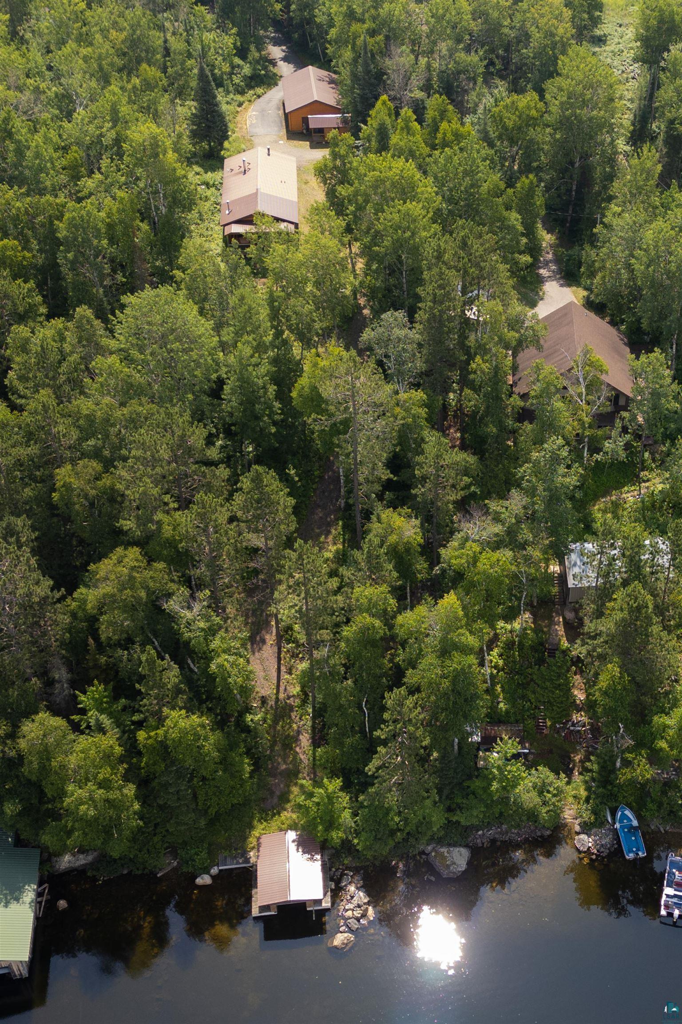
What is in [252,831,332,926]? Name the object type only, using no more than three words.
building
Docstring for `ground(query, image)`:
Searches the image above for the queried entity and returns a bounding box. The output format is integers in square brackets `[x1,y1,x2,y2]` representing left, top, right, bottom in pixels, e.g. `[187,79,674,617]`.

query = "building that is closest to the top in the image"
[281,66,351,138]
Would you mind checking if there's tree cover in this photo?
Yes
